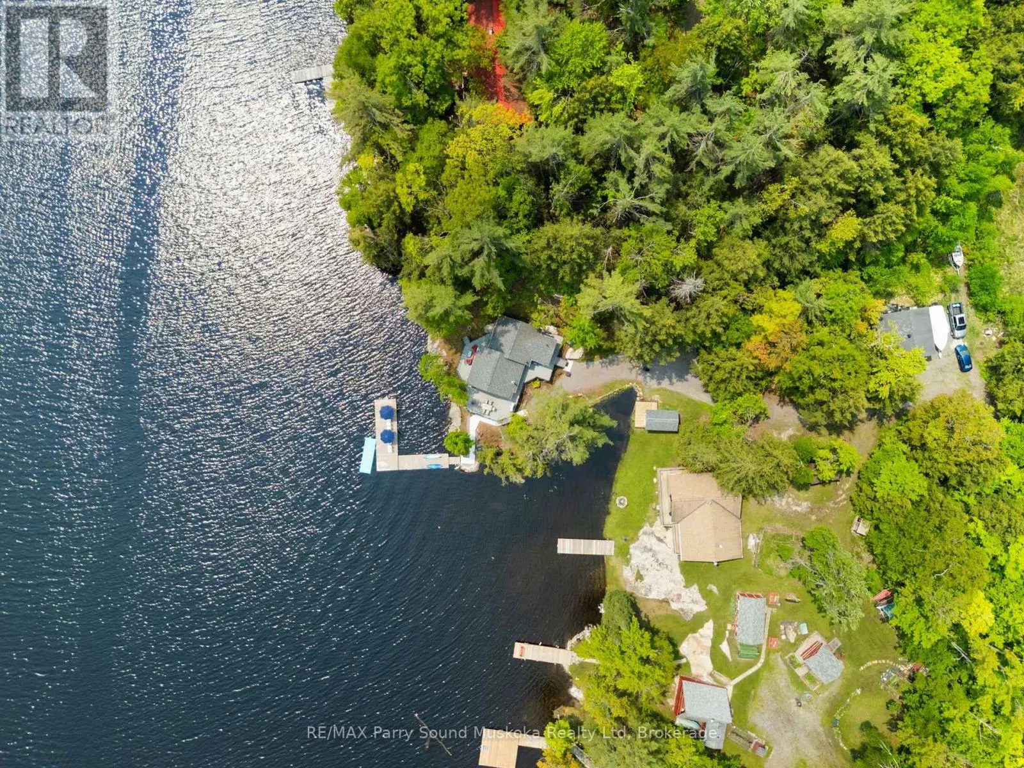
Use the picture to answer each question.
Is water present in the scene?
Yes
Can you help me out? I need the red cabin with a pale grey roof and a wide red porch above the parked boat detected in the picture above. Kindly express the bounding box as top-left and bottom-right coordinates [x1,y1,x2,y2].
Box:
[675,674,732,749]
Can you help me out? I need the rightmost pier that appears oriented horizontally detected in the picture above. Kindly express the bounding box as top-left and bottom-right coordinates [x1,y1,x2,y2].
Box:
[556,537,615,555]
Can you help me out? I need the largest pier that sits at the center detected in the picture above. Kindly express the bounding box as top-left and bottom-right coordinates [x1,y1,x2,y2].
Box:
[373,399,461,471]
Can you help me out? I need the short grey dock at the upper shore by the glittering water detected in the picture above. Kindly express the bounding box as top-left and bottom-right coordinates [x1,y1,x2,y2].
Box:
[293,62,339,85]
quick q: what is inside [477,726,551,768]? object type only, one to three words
pier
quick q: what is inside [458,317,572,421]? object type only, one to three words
house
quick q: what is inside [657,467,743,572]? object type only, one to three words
house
